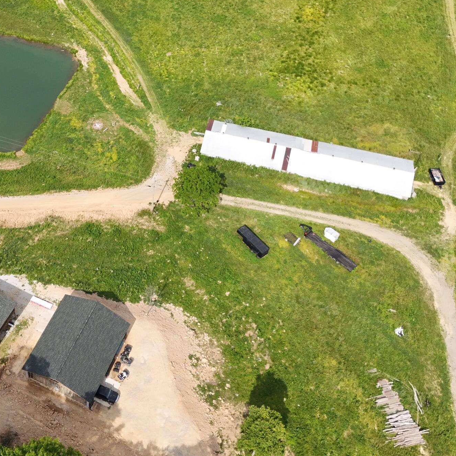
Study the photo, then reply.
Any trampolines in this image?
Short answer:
No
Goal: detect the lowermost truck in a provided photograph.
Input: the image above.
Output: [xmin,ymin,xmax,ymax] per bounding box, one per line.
[94,383,126,408]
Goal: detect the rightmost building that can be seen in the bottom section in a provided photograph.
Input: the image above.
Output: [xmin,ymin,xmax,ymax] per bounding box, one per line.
[22,295,130,407]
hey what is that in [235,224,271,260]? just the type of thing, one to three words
trailer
